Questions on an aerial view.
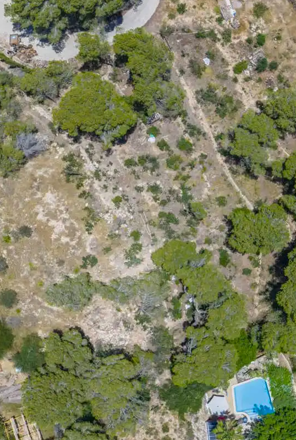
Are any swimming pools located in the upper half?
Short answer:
No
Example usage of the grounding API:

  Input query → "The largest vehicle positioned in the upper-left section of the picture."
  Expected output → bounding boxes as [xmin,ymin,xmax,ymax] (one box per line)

[3,32,20,52]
